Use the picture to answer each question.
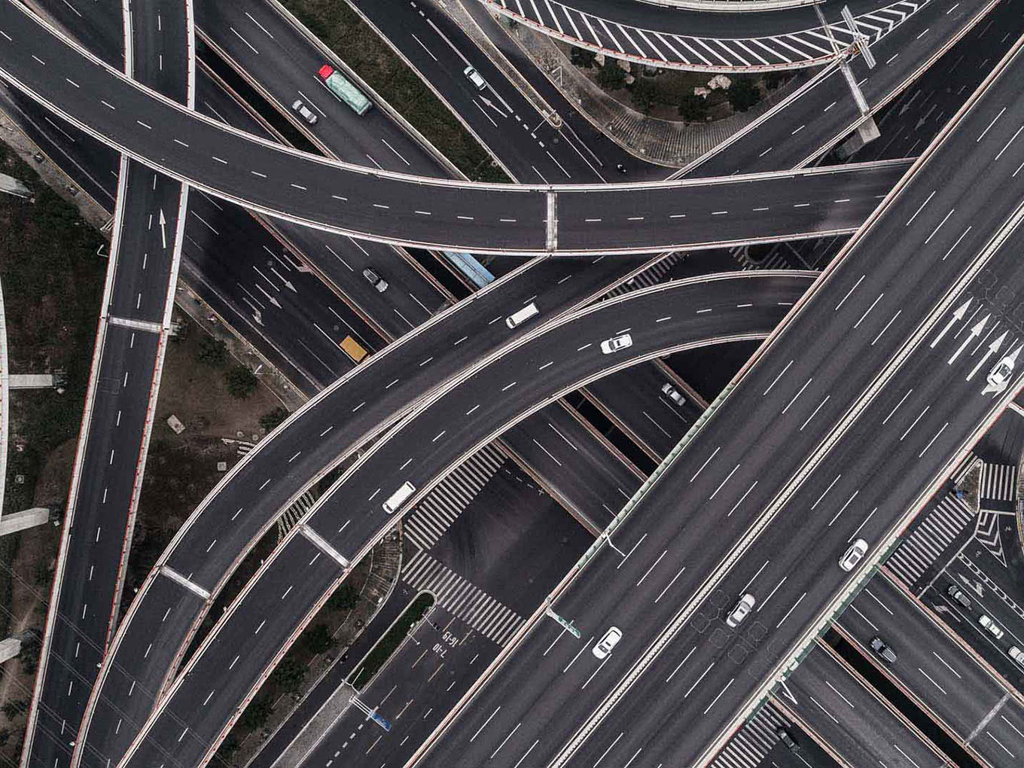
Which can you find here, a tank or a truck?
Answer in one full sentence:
There is a truck in the scene.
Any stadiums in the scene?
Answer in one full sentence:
No, no stadium is visible in the view.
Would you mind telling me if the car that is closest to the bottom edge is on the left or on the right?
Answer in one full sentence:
The car that is closest to the bottom edge is on the right side of the image.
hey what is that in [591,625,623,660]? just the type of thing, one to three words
car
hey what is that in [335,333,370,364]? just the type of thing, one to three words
truck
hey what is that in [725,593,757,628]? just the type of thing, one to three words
car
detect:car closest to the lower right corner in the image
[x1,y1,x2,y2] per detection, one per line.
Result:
[1004,644,1024,670]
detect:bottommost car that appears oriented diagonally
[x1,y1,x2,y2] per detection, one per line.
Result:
[774,724,799,750]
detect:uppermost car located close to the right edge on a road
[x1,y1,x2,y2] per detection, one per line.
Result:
[984,356,1015,388]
